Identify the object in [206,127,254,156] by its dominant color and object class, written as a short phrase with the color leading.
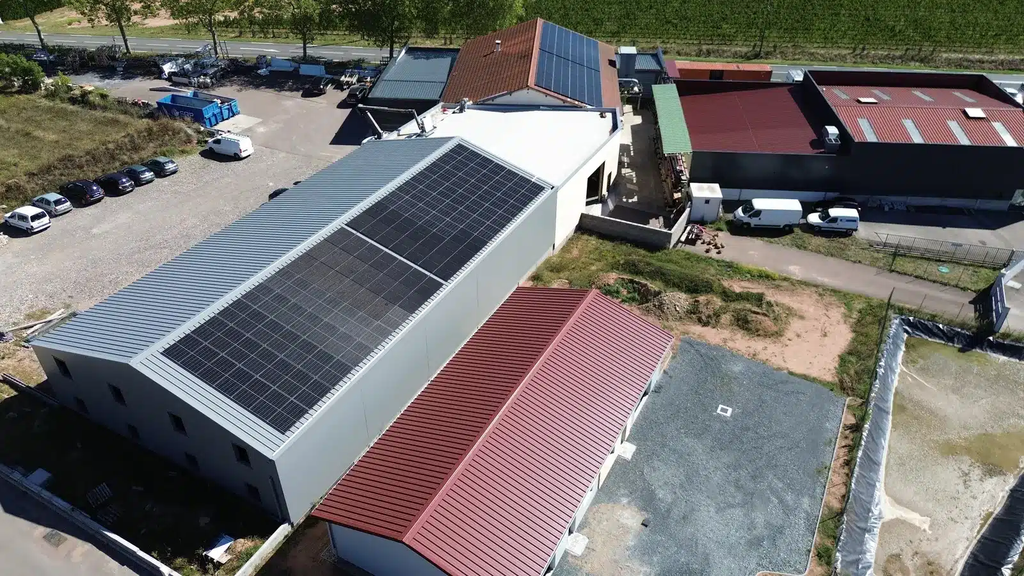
white van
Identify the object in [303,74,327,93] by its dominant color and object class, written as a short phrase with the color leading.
black car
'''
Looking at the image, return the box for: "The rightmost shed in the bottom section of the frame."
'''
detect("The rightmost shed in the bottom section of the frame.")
[306,287,675,576]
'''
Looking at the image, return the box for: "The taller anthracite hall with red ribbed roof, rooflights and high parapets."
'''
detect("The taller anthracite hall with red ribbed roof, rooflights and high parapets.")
[801,71,1024,207]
